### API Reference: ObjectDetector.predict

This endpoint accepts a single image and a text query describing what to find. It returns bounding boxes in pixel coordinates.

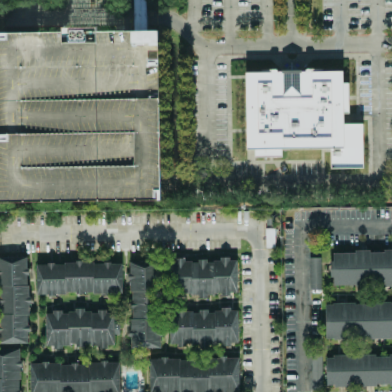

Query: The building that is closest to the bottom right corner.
[326,356,392,391]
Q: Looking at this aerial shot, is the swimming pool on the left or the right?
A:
left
